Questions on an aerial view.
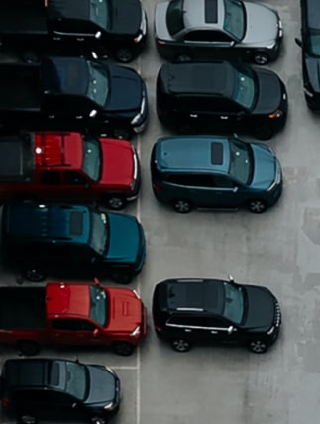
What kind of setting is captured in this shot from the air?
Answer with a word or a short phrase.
parking lot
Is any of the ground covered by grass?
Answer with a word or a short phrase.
No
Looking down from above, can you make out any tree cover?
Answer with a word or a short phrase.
No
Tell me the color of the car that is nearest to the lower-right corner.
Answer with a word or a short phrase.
black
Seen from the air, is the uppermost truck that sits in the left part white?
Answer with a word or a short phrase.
No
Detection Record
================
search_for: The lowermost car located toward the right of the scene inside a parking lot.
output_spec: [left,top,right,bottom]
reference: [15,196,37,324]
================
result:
[152,276,282,353]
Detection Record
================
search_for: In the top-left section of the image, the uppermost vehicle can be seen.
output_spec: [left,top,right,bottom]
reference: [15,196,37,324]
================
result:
[0,0,146,63]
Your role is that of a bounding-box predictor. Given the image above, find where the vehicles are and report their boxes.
[0,202,145,283]
[0,0,146,63]
[0,354,121,424]
[0,55,147,136]
[150,134,283,214]
[0,276,146,355]
[154,0,284,65]
[152,276,282,353]
[155,62,289,139]
[0,127,140,208]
